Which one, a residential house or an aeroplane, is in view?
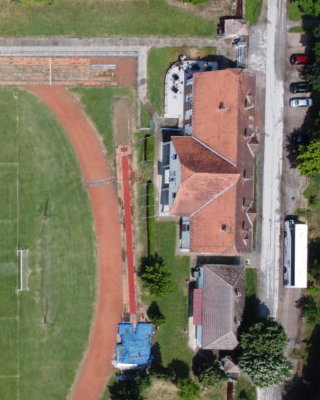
residential house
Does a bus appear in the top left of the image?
No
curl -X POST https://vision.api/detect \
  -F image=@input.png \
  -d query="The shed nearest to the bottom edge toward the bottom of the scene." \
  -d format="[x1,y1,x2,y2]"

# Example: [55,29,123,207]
[214,355,240,376]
